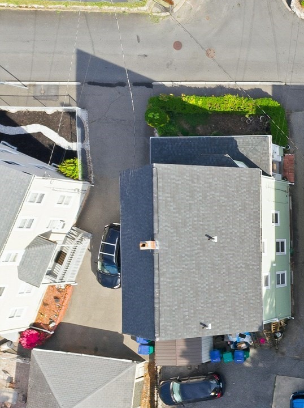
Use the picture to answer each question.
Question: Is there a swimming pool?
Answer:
No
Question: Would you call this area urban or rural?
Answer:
urban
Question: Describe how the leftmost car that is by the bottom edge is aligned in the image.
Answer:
from side to side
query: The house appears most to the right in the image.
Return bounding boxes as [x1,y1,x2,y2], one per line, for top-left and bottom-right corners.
[120,135,295,366]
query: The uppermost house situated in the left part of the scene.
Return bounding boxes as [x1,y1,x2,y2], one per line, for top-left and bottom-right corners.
[0,142,98,331]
